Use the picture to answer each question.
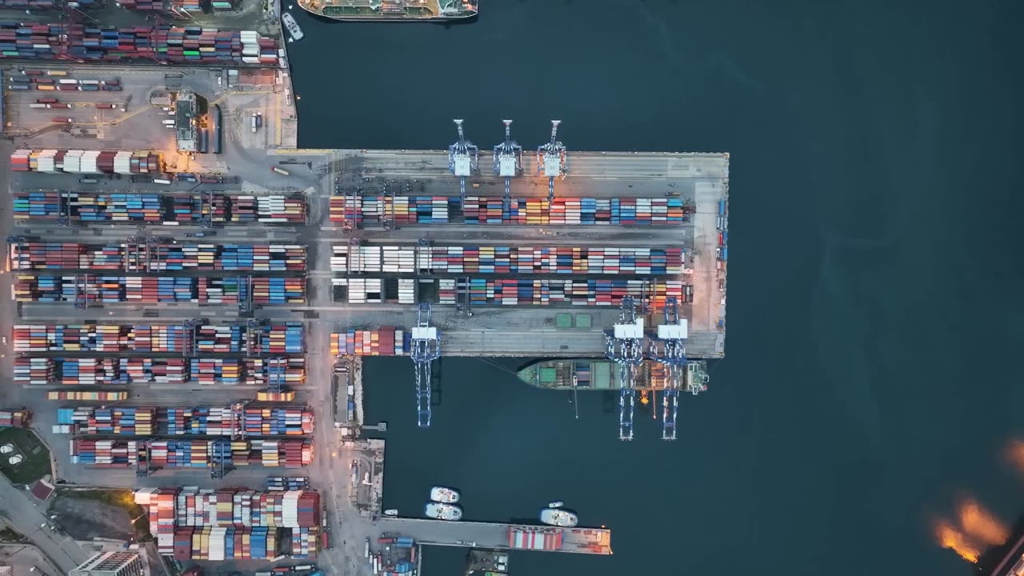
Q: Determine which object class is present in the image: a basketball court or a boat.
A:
boat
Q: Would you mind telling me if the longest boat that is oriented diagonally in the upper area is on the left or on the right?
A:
left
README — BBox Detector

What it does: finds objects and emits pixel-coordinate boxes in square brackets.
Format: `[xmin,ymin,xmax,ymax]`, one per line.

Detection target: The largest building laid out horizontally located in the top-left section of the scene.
[237,68,274,86]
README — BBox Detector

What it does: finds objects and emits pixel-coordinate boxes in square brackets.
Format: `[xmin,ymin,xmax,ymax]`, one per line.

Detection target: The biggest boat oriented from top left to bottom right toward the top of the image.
[284,14,306,44]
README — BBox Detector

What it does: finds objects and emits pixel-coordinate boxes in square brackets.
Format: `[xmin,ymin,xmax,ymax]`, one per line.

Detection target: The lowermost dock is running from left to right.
[381,515,612,554]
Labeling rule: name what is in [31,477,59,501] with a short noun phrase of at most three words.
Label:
building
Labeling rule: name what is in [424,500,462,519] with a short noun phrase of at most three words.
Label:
boat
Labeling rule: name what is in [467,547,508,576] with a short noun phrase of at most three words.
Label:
ship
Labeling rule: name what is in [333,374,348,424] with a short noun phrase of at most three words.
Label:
shed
